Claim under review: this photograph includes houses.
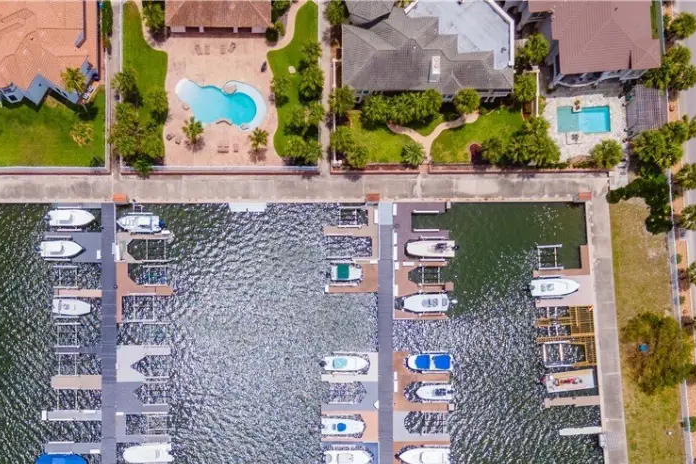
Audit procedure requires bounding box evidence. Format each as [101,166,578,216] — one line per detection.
[518,0,661,93]
[0,0,102,108]
[341,0,515,106]
[165,0,272,35]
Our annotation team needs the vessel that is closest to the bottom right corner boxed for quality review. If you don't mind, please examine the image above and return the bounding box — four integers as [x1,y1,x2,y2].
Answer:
[543,371,594,391]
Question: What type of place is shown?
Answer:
residential area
